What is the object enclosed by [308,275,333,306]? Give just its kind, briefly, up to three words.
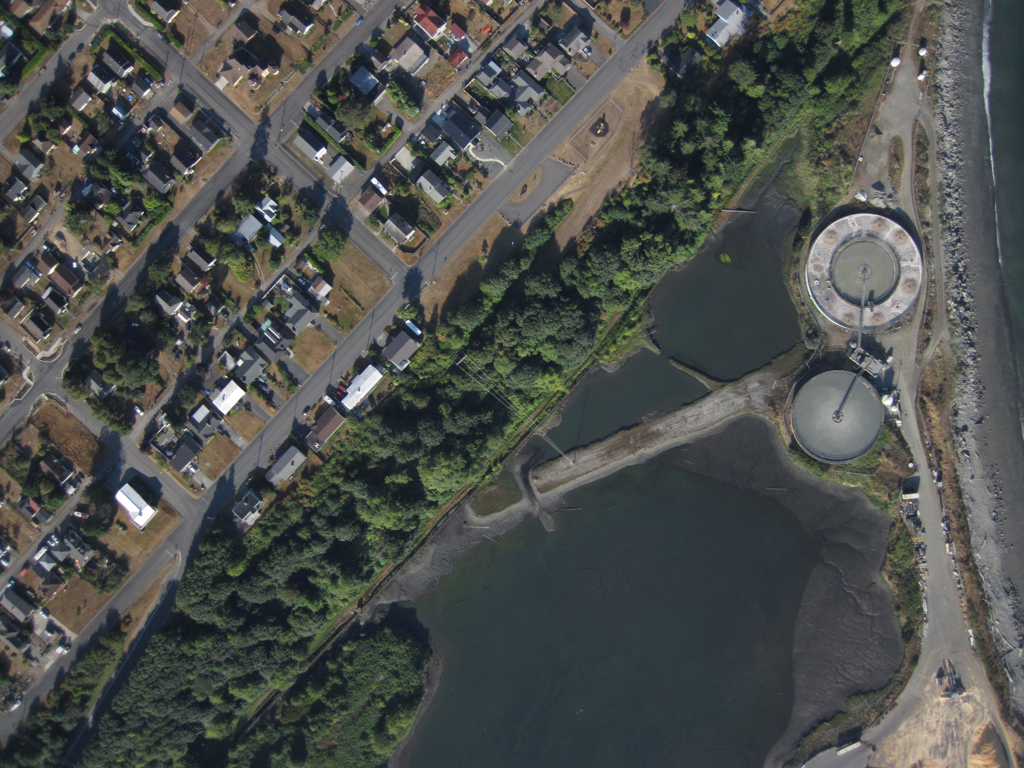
building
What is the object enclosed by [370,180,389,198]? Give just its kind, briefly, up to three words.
camper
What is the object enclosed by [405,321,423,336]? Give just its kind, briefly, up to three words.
camper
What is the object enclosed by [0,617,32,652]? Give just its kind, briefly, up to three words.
house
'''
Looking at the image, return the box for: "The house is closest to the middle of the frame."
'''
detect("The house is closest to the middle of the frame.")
[385,331,420,367]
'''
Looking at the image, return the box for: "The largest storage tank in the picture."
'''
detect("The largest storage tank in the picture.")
[805,214,923,329]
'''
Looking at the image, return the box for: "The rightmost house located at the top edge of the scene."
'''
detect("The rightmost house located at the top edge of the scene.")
[705,0,746,50]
